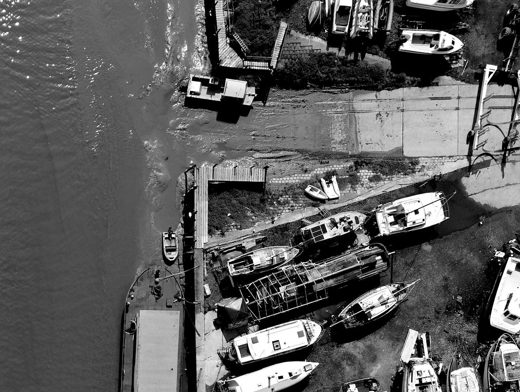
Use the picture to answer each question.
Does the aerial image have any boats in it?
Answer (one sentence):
Yes, the picture does show a boat.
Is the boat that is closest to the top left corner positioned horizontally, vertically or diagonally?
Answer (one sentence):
I'd say the boat that is closest to the top left corner is aligned horizontally in the picture.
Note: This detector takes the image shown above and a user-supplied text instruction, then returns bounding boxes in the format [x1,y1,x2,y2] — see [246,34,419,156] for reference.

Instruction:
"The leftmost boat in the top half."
[182,74,256,109]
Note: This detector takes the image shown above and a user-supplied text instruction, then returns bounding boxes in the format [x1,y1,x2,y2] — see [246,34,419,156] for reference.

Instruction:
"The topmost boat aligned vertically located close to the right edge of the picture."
[485,259,520,336]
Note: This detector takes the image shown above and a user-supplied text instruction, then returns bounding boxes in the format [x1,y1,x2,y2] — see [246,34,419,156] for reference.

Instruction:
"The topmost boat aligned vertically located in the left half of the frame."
[162,228,178,262]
